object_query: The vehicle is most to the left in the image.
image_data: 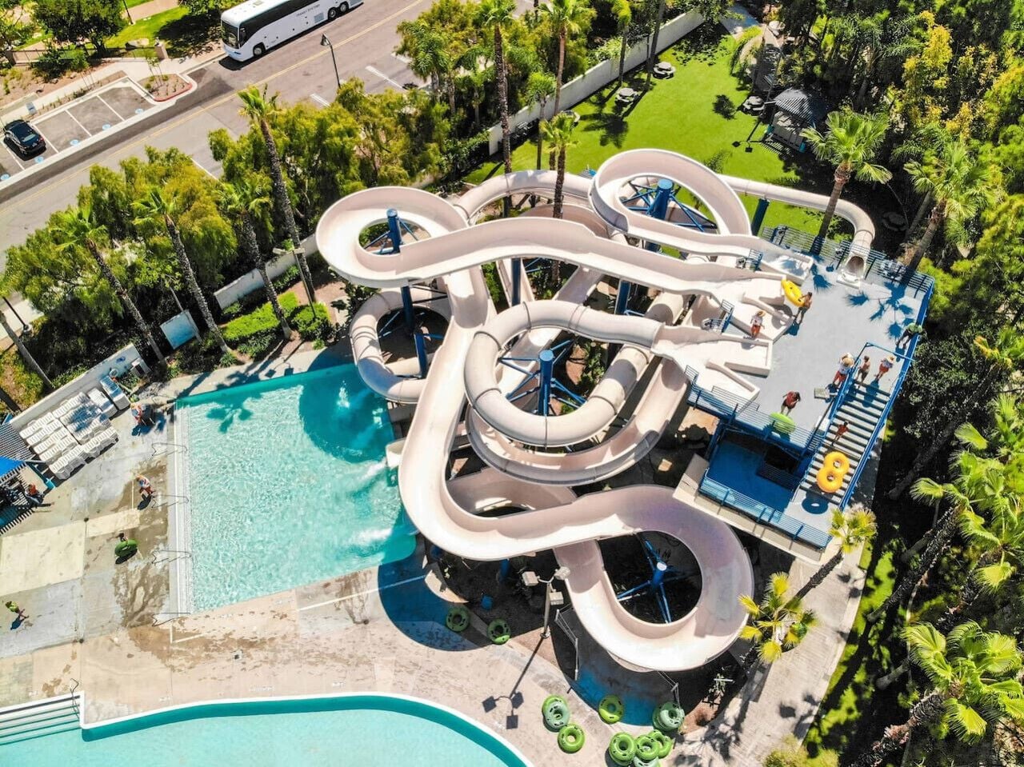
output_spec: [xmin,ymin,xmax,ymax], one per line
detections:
[0,119,45,157]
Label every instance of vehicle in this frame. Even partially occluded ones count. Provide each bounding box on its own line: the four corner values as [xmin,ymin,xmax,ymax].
[209,0,361,59]
[0,119,45,157]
